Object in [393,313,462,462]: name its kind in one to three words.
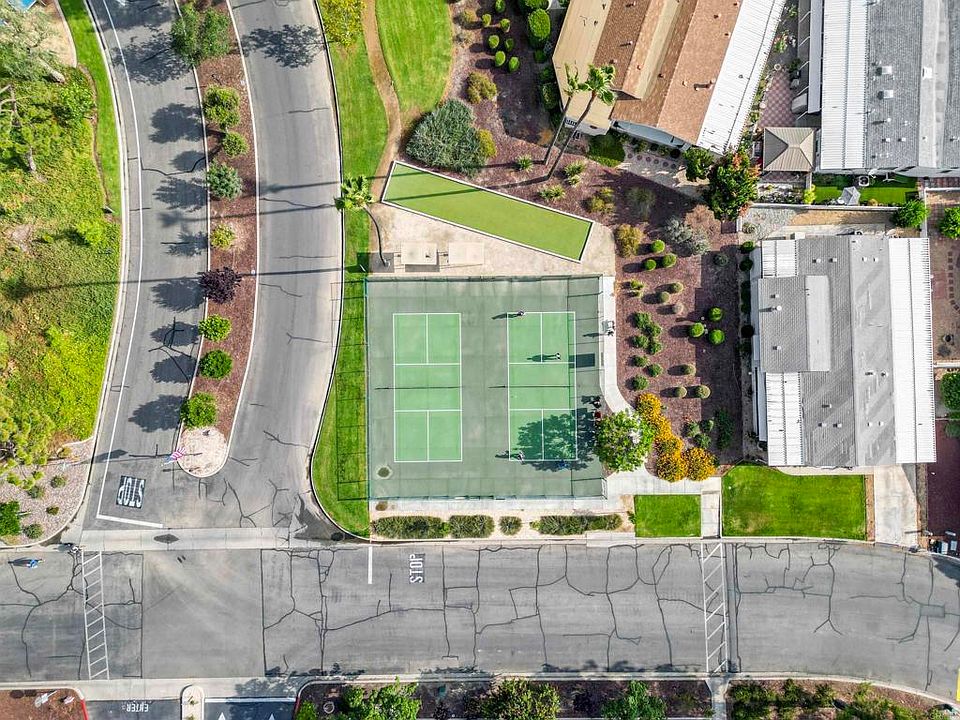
sports court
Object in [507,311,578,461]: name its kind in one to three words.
sports court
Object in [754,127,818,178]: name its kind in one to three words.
gazebo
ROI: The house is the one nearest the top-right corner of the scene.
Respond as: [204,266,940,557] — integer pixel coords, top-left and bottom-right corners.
[801,0,960,182]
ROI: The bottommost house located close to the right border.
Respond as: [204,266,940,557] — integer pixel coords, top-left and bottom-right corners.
[750,237,937,466]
